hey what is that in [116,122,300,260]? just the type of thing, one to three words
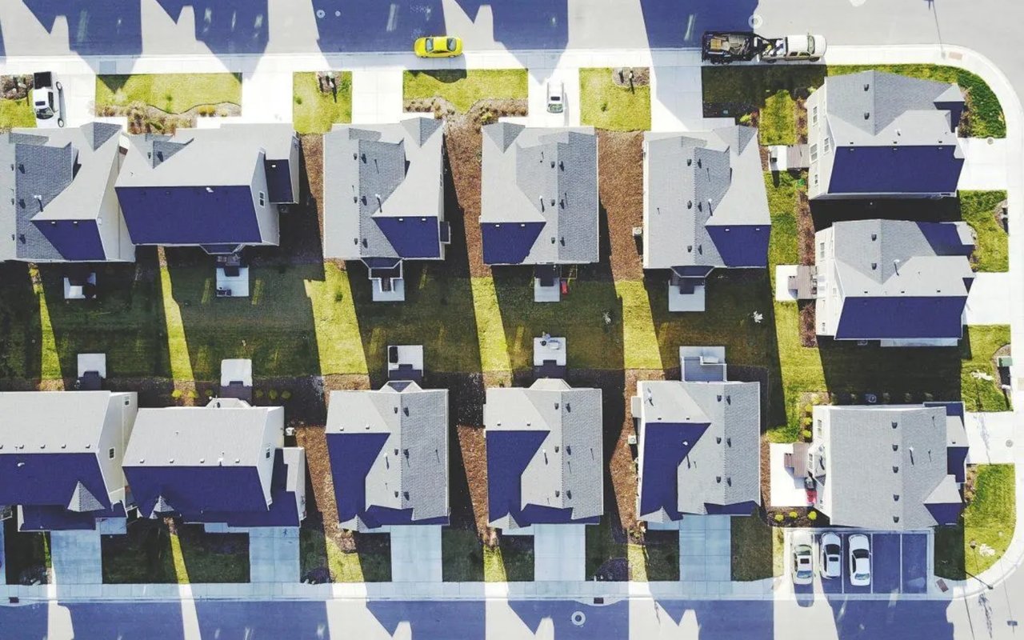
house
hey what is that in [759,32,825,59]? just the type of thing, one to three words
truck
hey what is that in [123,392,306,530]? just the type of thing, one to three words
house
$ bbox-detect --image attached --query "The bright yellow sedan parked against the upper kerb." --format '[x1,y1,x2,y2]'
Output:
[415,36,463,60]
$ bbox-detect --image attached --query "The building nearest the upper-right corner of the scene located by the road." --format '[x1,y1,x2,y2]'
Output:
[807,70,963,199]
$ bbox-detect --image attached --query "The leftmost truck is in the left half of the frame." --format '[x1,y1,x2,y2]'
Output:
[31,72,61,127]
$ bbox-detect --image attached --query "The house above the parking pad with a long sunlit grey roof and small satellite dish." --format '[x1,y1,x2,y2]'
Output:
[804,399,967,529]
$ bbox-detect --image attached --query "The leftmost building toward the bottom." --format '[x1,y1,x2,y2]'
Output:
[0,388,137,531]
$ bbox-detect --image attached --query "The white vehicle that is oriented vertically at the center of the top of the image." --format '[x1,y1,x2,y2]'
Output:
[544,78,567,129]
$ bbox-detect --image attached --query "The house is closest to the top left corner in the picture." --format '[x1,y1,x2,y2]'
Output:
[0,119,136,263]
